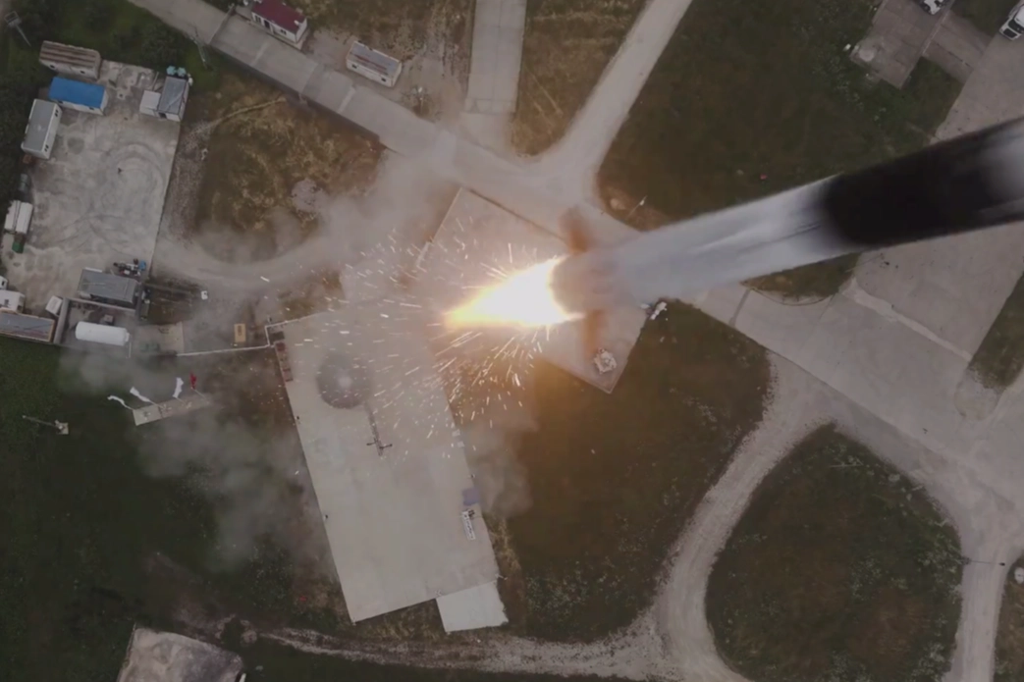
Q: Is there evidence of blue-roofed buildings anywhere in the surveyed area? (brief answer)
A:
Yes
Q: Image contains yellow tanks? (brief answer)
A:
No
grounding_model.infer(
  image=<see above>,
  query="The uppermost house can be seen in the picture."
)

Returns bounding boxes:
[250,0,313,58]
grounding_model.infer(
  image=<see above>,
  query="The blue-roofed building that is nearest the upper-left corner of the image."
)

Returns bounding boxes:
[48,76,111,116]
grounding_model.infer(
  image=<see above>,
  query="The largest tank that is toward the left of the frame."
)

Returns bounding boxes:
[75,322,139,360]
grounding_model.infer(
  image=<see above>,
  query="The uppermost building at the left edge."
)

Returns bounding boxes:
[39,42,107,80]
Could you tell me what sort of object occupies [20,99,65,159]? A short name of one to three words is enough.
building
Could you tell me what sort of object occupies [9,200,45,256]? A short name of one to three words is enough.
truck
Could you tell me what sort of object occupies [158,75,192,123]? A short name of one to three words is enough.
shed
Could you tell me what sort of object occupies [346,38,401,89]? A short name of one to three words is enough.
building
